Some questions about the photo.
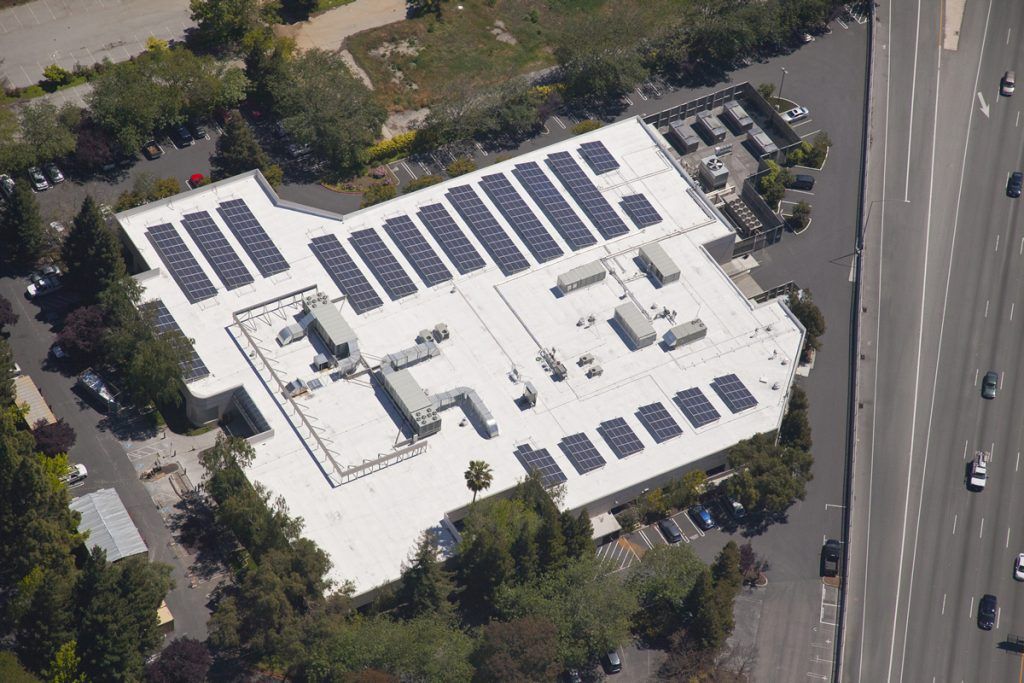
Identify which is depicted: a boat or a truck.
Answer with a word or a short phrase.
truck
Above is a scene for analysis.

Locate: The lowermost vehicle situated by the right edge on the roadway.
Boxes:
[978,596,996,629]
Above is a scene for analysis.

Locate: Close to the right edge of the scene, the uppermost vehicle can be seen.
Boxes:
[1002,69,1017,96]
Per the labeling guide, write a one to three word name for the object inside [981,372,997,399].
car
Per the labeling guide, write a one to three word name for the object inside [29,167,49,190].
car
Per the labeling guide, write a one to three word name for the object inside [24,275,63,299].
truck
